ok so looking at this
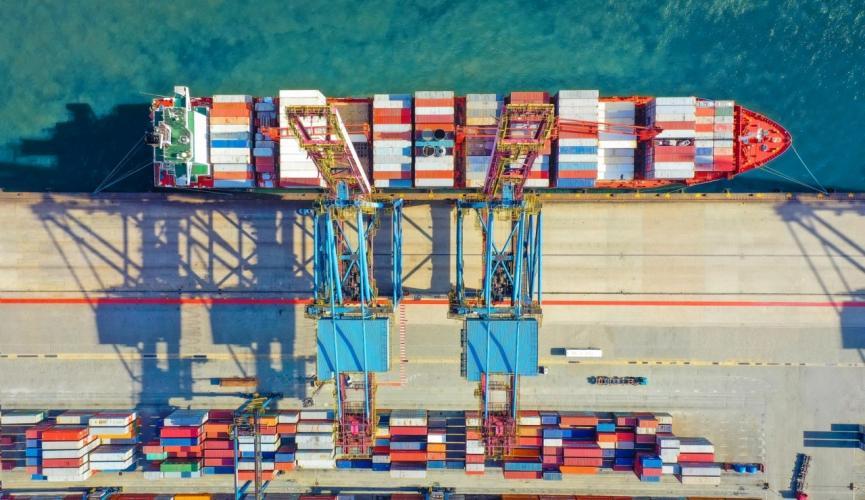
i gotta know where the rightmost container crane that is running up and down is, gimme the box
[443,105,556,470]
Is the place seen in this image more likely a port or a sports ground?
port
